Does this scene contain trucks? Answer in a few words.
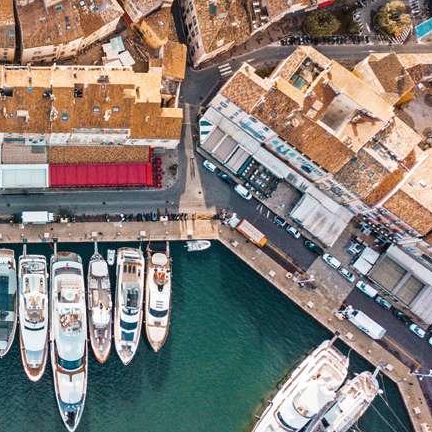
Yes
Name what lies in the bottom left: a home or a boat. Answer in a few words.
boat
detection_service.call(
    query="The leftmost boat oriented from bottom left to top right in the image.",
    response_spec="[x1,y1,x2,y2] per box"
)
[251,331,355,432]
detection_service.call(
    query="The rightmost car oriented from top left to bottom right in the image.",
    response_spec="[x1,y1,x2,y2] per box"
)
[408,321,429,340]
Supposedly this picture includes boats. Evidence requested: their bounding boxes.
[48,239,90,432]
[0,246,18,361]
[144,240,174,353]
[112,238,145,367]
[86,239,114,362]
[19,238,50,386]
[313,365,399,432]
[251,331,355,432]
[184,239,212,251]
[109,248,116,267]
